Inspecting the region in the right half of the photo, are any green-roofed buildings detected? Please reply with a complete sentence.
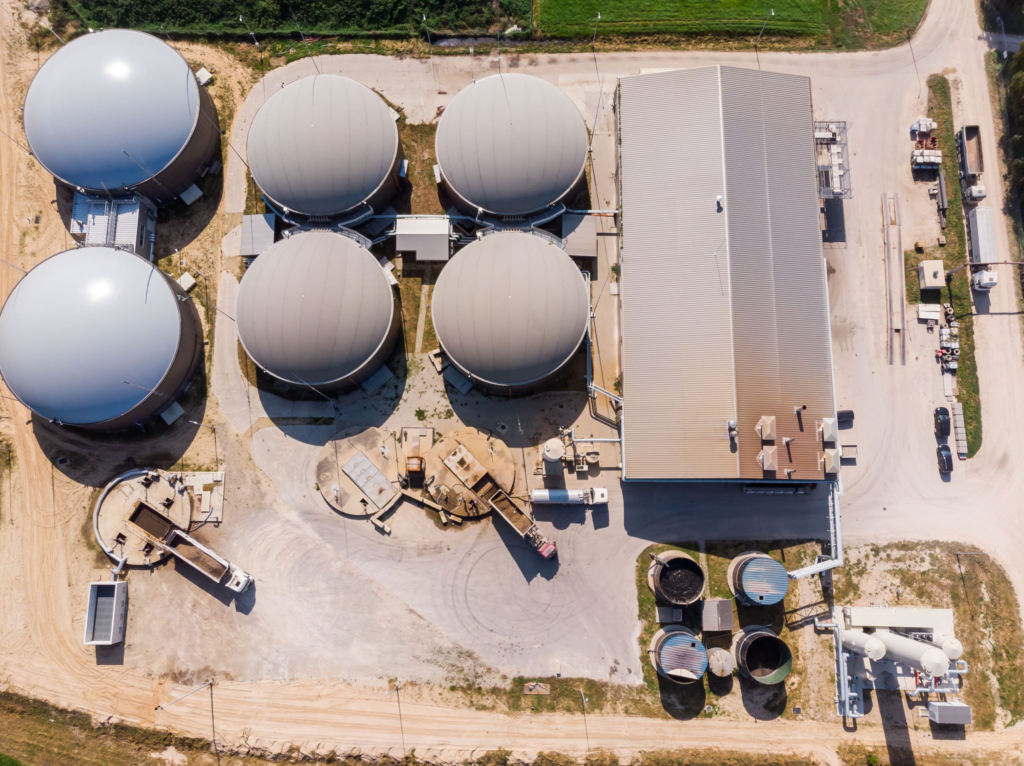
No, no green-roofed building can be made out in the right half of the photo.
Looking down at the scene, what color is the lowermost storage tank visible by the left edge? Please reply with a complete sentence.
From above, the lowermost storage tank visible by the left edge appears white.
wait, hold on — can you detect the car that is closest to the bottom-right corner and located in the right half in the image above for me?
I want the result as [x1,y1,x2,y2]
[936,445,955,471]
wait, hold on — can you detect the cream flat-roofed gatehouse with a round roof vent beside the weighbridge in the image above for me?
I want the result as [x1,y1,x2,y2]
[916,260,945,290]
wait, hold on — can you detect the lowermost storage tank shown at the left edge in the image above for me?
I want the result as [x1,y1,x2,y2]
[0,245,205,433]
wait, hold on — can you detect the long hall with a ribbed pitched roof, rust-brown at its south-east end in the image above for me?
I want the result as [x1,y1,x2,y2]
[613,63,837,481]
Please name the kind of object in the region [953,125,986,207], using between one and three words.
truck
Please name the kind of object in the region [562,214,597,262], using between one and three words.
building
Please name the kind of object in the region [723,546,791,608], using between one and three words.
storage tank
